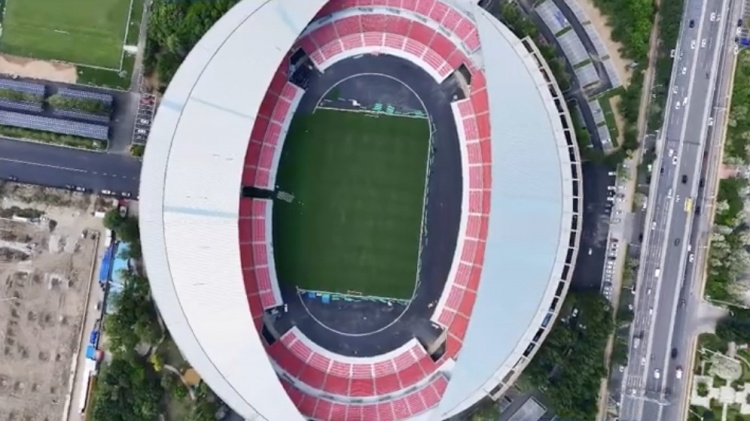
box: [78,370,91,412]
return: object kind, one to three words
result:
shed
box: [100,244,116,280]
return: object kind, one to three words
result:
shed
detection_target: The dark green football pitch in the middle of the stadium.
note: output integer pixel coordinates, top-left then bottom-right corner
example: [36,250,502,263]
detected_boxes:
[275,108,431,302]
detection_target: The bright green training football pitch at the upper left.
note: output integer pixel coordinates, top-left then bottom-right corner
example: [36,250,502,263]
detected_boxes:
[0,0,131,71]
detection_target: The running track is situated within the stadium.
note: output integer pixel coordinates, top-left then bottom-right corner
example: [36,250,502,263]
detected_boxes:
[268,52,461,355]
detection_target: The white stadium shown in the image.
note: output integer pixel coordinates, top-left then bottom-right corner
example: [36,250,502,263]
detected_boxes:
[141,0,584,421]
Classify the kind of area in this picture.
sports ground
